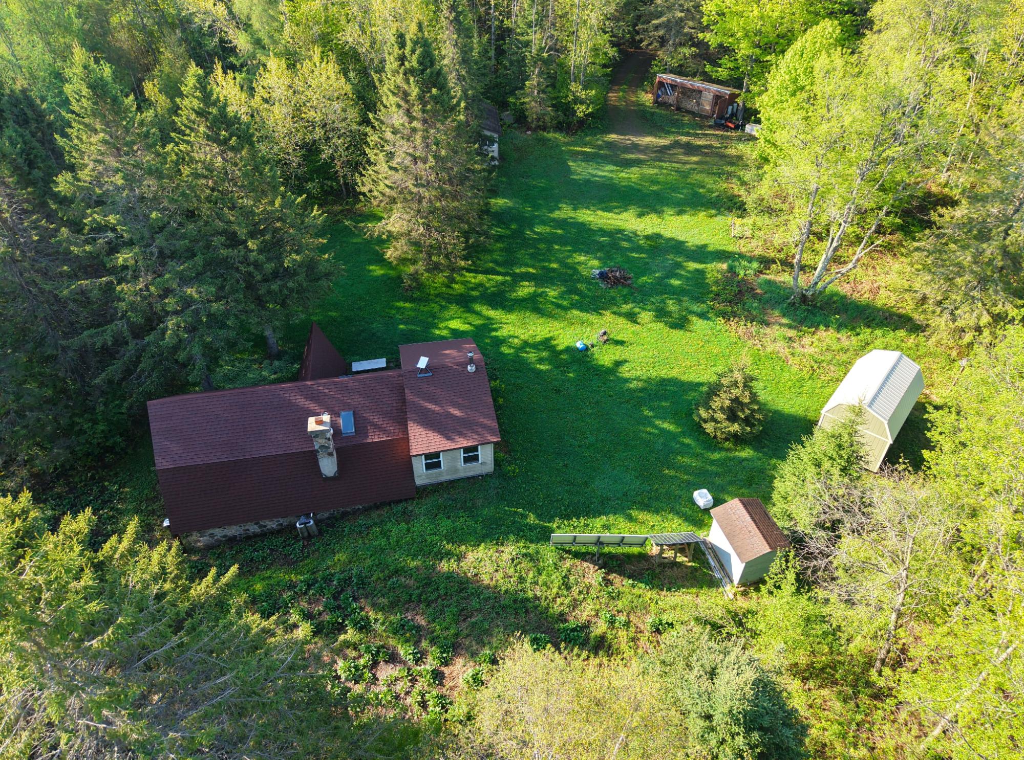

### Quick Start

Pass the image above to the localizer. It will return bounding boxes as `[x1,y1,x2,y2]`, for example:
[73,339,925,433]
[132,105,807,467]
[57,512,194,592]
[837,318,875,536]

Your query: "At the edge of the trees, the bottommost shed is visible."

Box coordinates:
[704,498,792,585]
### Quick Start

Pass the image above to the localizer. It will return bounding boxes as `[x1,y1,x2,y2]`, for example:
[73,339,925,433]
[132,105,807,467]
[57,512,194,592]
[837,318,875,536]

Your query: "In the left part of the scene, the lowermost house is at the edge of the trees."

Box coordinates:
[152,322,498,542]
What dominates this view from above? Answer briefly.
trees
